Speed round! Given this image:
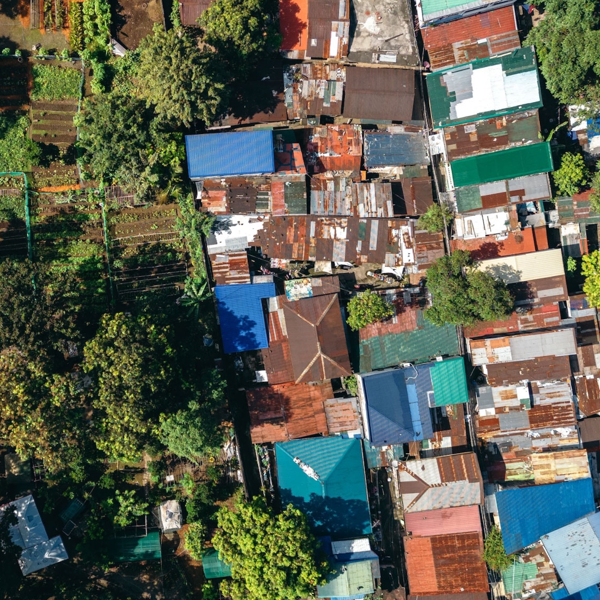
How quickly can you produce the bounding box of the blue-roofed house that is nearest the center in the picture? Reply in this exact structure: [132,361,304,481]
[215,283,275,353]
